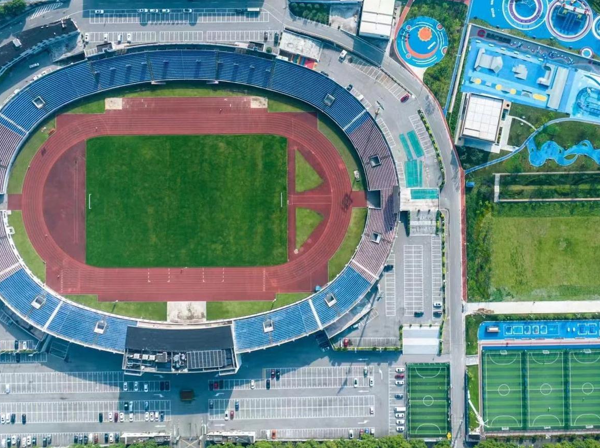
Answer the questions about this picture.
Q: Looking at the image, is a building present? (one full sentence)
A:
Yes, the image includes a building.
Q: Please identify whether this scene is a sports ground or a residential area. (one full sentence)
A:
What you see here is a sports ground.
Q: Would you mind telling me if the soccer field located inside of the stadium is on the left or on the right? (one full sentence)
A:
The soccer field located inside of the stadium is on the left side of the image.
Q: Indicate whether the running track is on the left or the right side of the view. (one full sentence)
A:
The running track sits on the left side.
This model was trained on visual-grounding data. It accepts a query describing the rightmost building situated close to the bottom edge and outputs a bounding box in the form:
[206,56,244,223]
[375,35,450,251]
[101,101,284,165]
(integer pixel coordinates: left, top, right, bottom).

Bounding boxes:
[207,429,256,443]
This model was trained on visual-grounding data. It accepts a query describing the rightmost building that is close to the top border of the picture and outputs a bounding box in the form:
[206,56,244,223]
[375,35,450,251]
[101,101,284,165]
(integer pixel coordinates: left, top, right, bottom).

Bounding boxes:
[359,0,395,40]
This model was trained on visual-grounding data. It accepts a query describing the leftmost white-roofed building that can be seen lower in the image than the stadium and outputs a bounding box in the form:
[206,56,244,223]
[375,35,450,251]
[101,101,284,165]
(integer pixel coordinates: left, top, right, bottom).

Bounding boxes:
[122,429,173,445]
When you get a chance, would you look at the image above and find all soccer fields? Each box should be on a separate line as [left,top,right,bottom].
[568,349,600,430]
[526,350,567,430]
[407,363,449,438]
[86,135,288,267]
[483,350,525,431]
